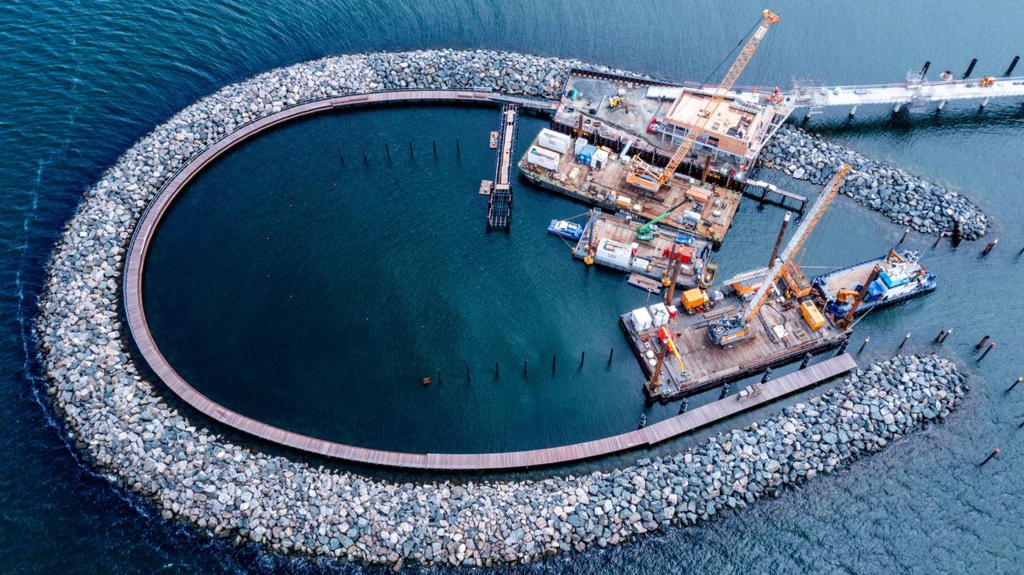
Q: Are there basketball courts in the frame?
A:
No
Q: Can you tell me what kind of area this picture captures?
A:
port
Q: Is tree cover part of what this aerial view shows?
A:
No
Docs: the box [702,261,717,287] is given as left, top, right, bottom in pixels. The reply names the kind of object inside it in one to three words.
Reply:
boat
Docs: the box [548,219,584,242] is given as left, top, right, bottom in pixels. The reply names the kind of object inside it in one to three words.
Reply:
boat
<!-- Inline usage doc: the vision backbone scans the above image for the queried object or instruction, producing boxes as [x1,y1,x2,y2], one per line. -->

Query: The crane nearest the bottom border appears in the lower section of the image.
[652,322,686,377]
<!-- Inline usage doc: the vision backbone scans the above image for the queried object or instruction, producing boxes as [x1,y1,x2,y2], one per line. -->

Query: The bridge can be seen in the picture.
[797,71,1024,120]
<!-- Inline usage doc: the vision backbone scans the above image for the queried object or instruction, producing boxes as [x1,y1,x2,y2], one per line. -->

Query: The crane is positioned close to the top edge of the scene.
[626,7,780,201]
